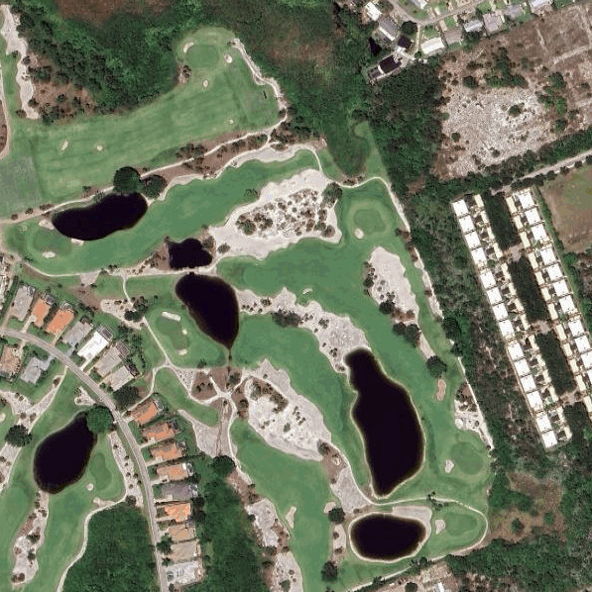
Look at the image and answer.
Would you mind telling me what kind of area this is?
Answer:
golf course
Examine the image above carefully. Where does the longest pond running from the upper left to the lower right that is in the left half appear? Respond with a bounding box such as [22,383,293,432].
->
[175,273,239,363]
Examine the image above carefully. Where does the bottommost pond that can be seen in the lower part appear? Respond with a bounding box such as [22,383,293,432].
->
[351,514,425,561]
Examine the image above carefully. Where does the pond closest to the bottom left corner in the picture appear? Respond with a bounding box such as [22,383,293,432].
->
[33,412,97,493]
